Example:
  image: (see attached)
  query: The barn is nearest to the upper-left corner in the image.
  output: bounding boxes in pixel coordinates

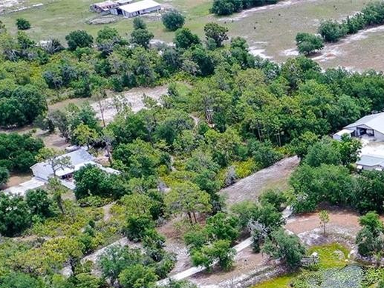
[78,1,119,14]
